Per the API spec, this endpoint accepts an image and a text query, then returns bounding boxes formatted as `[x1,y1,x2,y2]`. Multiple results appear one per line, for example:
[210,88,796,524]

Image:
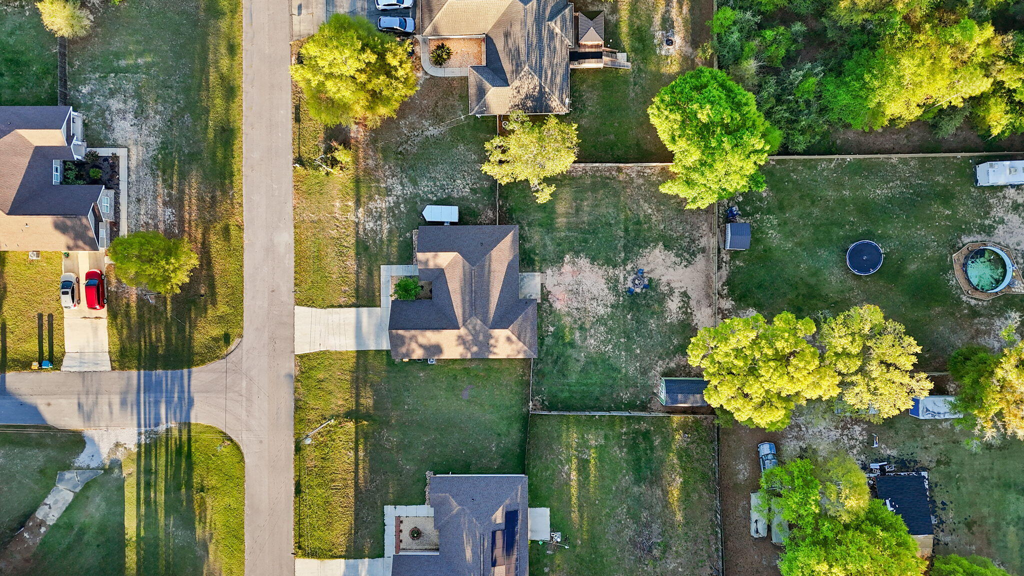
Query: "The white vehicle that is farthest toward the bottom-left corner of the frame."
[58,270,80,307]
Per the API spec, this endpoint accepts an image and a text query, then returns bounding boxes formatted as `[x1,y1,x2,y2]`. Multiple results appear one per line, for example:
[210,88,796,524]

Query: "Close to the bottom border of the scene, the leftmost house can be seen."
[389,473,528,576]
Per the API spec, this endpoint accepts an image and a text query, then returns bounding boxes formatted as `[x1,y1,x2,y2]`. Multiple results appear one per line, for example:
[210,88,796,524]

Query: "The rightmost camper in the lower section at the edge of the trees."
[911,394,965,419]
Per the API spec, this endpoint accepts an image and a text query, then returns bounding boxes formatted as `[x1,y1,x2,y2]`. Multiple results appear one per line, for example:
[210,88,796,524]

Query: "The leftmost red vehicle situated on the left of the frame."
[84,270,105,307]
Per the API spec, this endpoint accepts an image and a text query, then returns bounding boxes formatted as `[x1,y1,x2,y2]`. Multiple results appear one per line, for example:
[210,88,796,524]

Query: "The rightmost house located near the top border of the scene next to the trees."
[420,0,574,117]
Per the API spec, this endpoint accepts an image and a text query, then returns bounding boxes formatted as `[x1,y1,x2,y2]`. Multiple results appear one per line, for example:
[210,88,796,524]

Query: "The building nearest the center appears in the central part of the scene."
[388,224,538,359]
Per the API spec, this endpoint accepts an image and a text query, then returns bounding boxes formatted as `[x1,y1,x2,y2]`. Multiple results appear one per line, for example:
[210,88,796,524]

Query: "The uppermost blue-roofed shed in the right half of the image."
[725,223,751,249]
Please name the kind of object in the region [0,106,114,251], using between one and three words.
house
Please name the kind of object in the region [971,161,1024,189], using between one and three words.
vehicle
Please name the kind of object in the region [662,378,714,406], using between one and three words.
shed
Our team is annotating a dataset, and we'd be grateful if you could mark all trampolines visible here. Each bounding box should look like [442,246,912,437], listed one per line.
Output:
[845,239,883,276]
